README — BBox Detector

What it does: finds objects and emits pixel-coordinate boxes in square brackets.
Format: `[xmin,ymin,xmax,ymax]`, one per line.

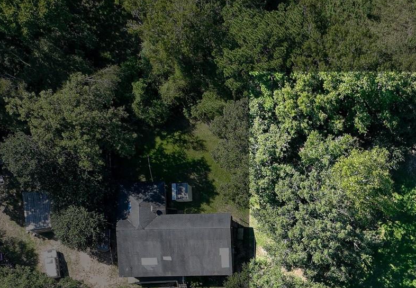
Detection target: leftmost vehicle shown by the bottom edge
[44,247,68,284]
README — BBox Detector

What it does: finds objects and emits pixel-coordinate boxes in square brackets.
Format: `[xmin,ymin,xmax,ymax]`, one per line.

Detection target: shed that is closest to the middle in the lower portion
[173,182,194,203]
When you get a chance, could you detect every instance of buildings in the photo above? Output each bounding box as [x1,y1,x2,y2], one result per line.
[22,192,59,233]
[173,182,194,203]
[112,183,234,288]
